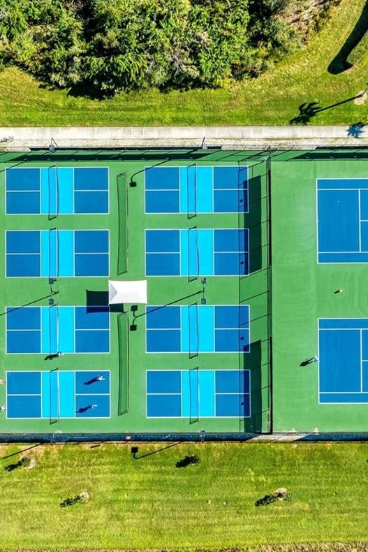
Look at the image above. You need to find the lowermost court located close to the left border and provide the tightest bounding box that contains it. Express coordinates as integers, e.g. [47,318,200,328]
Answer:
[7,372,110,419]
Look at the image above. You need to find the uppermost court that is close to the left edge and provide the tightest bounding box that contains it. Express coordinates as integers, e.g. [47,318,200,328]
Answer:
[5,167,109,214]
